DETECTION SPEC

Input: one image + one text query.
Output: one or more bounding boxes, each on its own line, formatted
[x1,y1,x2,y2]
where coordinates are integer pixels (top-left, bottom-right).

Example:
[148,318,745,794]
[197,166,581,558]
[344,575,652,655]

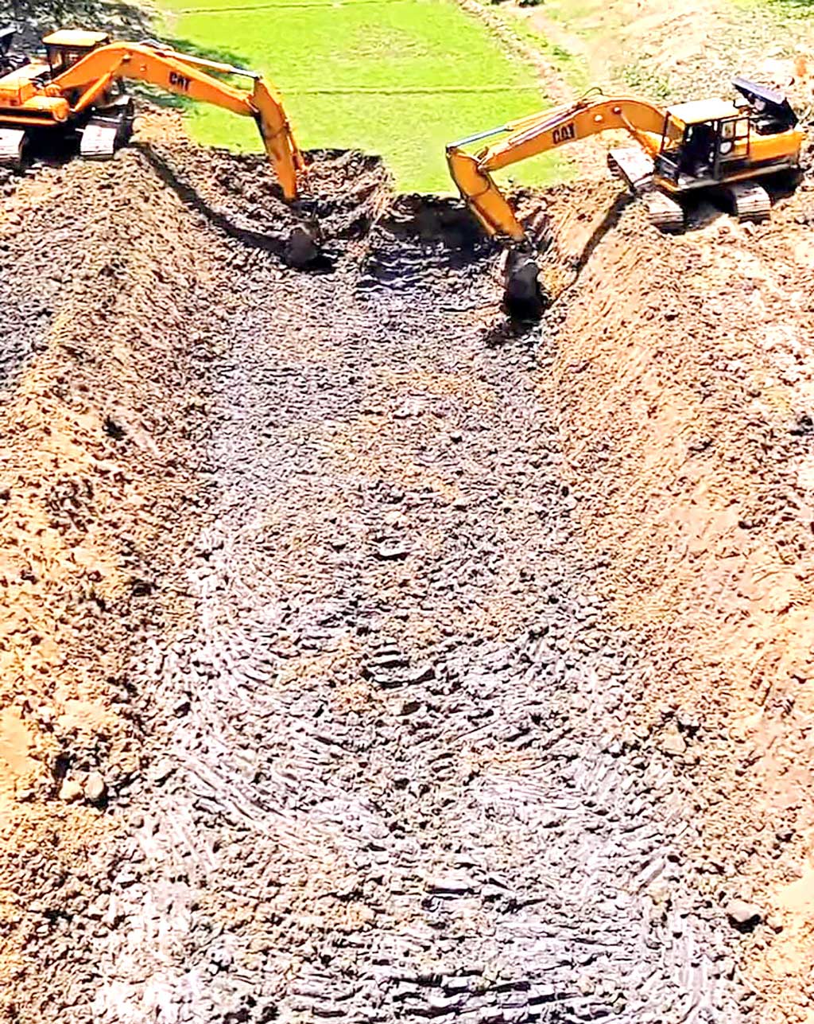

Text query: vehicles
[0,19,325,260]
[443,73,801,316]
